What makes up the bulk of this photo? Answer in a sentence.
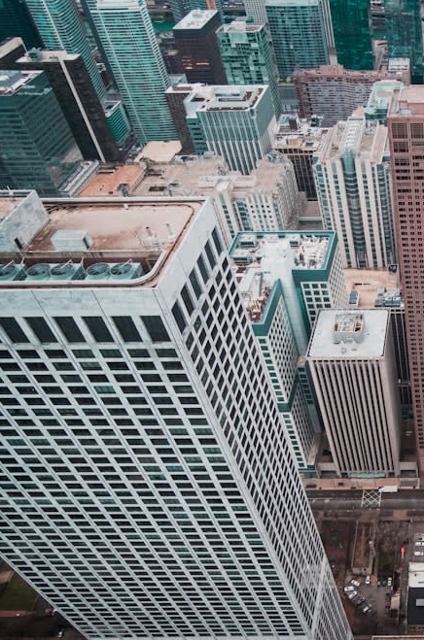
Most of the picture is covered by buildings.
